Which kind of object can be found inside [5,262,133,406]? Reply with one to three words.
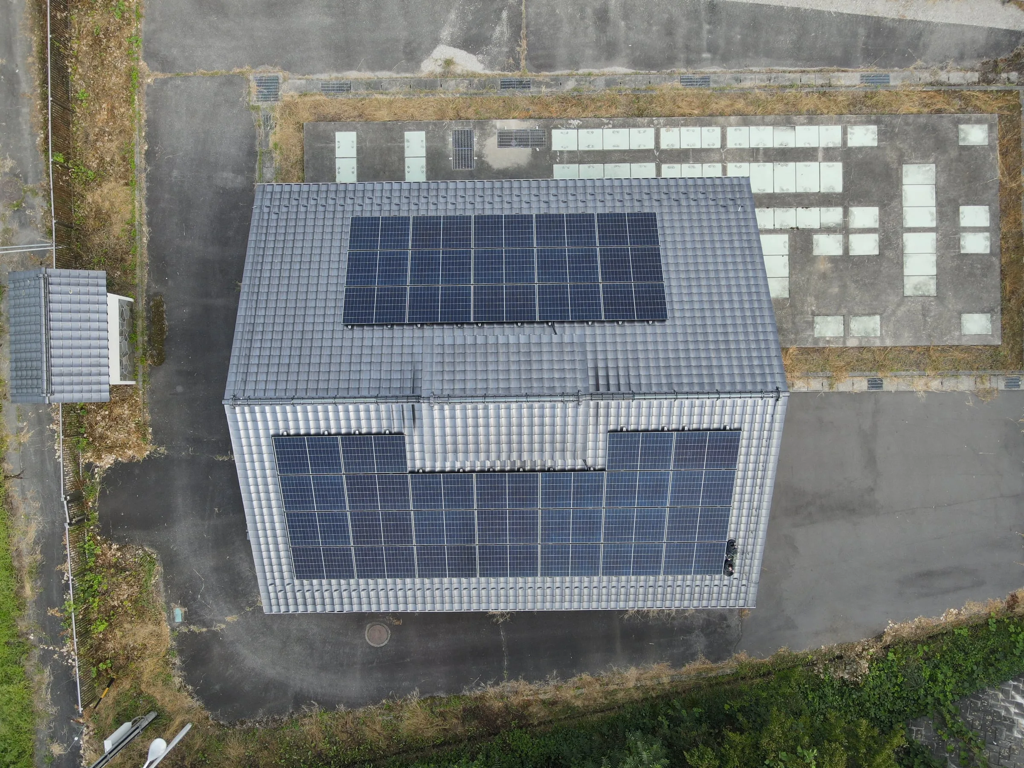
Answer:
shed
